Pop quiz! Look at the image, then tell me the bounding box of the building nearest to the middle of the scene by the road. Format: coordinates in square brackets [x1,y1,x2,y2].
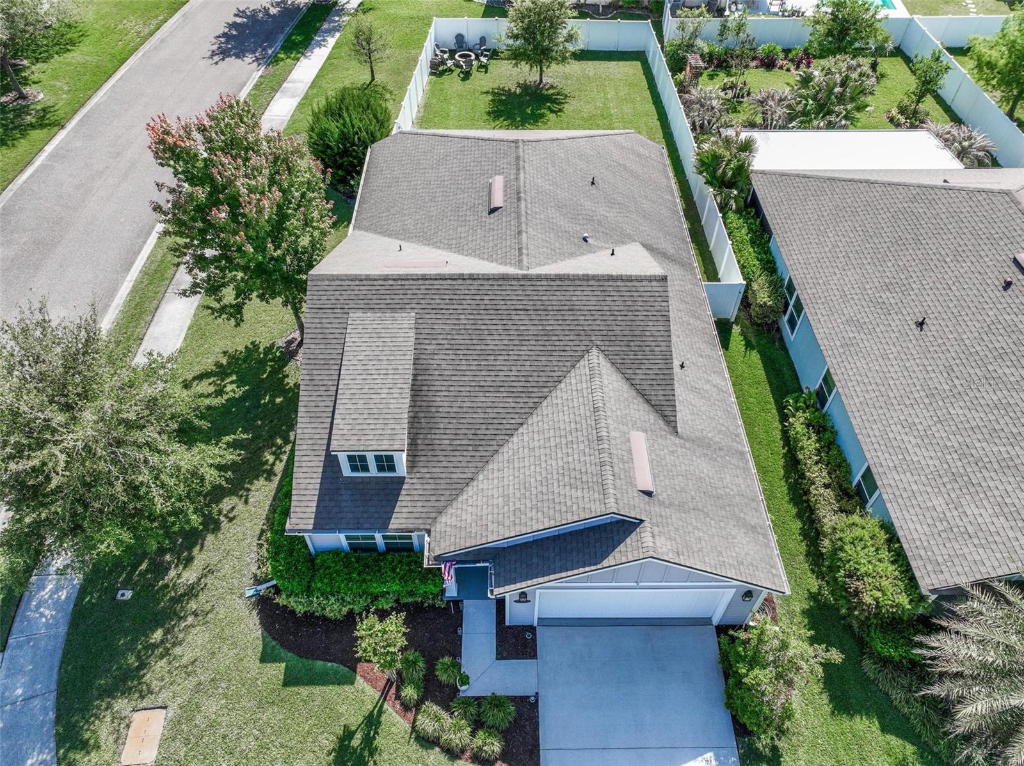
[285,131,795,627]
